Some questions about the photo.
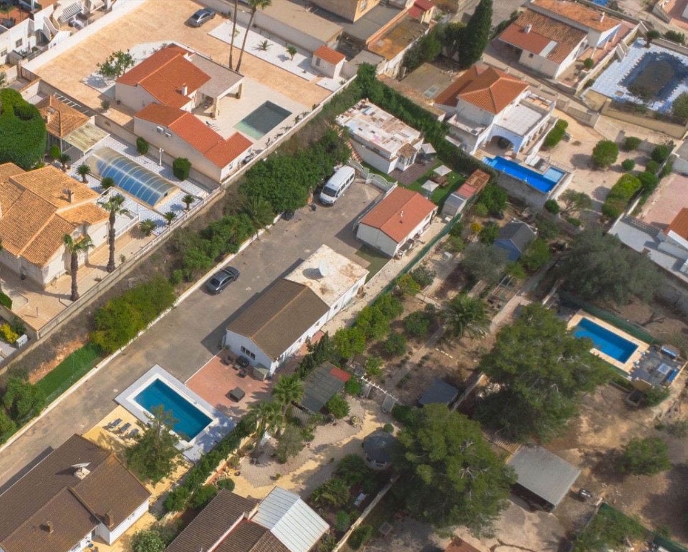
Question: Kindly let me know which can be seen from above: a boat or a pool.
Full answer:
It is a pool that can be seen here.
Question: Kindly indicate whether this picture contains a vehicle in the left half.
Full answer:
Yes, there is a vehicle in the left half.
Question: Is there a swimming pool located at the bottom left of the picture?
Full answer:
Yes, you'll find a swimming pool at the bottom left of the picture.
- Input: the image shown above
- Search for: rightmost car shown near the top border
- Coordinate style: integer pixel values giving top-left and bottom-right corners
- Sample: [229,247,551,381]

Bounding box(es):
[189,8,210,26]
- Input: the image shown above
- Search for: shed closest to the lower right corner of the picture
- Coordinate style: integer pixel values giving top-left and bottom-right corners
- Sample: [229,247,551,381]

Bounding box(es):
[505,444,581,520]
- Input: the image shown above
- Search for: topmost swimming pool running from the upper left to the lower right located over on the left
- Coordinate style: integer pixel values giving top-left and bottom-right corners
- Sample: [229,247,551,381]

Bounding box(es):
[85,147,177,210]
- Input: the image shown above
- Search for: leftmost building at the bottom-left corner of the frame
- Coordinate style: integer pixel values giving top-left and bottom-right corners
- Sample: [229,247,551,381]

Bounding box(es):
[0,434,152,552]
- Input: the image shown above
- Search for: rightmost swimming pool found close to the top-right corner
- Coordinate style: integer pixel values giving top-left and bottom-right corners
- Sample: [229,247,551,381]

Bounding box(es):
[619,51,688,103]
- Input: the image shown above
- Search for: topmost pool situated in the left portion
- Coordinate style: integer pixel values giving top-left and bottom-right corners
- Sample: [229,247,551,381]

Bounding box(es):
[234,100,291,140]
